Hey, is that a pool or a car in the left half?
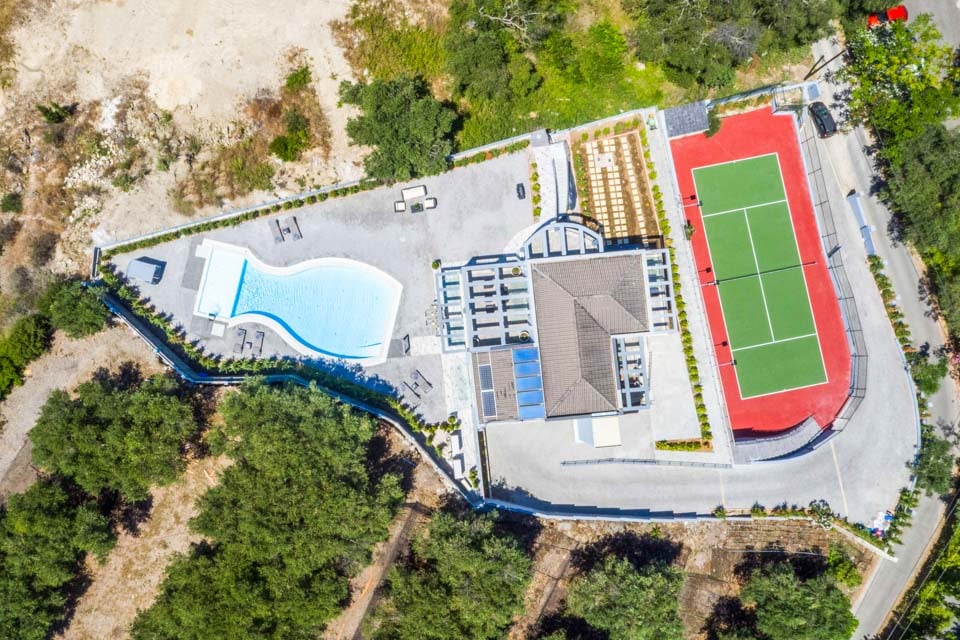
pool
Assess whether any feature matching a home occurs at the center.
Yes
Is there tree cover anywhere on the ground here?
Yes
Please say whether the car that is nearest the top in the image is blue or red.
red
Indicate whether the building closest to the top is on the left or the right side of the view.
right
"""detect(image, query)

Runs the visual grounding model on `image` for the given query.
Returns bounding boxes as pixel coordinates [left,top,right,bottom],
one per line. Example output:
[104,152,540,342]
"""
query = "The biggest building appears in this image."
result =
[436,220,680,426]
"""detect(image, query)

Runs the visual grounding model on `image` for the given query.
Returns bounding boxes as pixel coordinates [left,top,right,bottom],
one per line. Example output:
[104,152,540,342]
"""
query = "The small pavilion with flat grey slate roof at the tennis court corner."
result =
[664,99,709,140]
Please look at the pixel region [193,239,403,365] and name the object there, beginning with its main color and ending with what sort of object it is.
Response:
white swimming pool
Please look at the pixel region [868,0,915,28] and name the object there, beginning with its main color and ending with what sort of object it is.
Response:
red car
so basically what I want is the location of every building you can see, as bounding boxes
[664,99,709,140]
[436,220,680,426]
